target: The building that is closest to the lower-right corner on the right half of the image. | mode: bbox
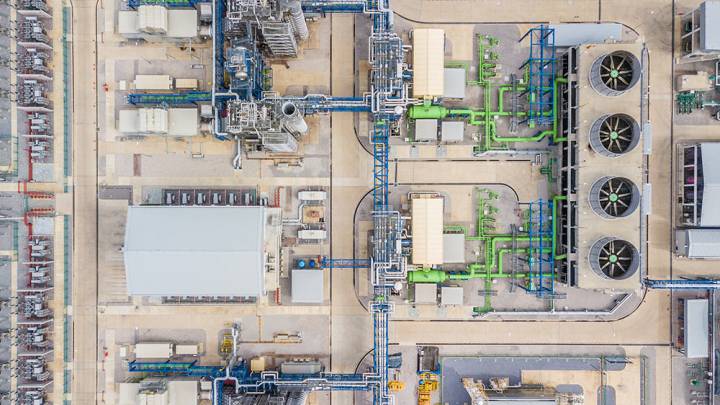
[680,297,708,357]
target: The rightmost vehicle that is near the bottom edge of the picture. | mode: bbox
[416,344,441,405]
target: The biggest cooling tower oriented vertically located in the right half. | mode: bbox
[553,39,645,290]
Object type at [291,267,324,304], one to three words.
building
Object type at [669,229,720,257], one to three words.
shed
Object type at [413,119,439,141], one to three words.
house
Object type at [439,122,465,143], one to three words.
house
